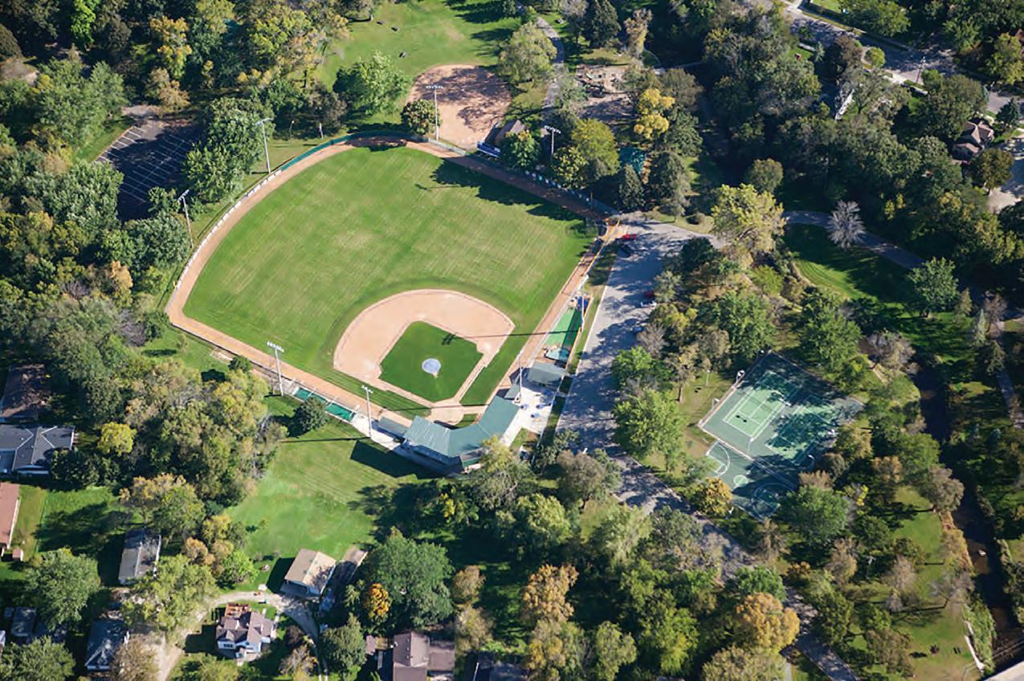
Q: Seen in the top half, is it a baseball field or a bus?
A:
baseball field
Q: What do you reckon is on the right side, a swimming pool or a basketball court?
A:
basketball court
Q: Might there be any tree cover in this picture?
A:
Yes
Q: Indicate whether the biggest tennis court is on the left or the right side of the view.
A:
right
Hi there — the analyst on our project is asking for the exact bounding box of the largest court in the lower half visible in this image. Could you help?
[699,351,863,484]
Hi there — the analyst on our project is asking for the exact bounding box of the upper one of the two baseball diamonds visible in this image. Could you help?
[407,65,512,151]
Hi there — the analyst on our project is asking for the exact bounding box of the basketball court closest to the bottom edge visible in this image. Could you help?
[690,441,793,522]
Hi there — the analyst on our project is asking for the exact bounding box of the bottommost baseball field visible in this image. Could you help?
[166,131,619,430]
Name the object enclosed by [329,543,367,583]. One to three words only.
shed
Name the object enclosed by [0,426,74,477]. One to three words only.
house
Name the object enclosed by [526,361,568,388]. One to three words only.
building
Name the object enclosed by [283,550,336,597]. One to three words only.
building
